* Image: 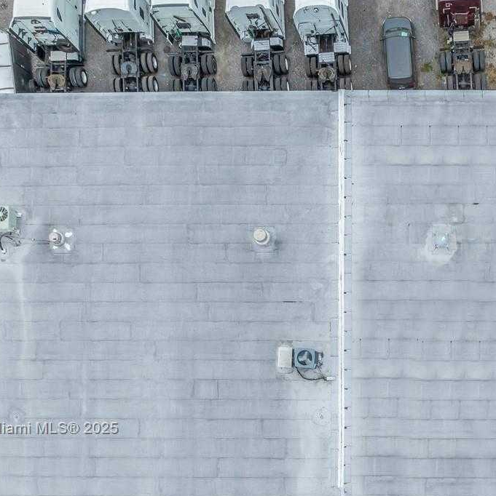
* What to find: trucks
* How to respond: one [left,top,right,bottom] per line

[228,0,289,90]
[295,0,352,90]
[86,0,160,91]
[151,0,220,91]
[7,0,89,91]
[440,0,486,91]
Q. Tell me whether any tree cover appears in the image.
No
